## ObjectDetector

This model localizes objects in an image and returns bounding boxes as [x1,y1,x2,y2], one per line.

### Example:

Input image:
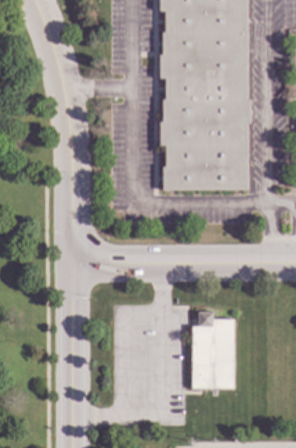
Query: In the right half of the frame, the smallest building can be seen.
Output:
[192,310,236,397]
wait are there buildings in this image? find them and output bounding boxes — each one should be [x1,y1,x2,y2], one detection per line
[192,310,236,397]
[160,0,250,190]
